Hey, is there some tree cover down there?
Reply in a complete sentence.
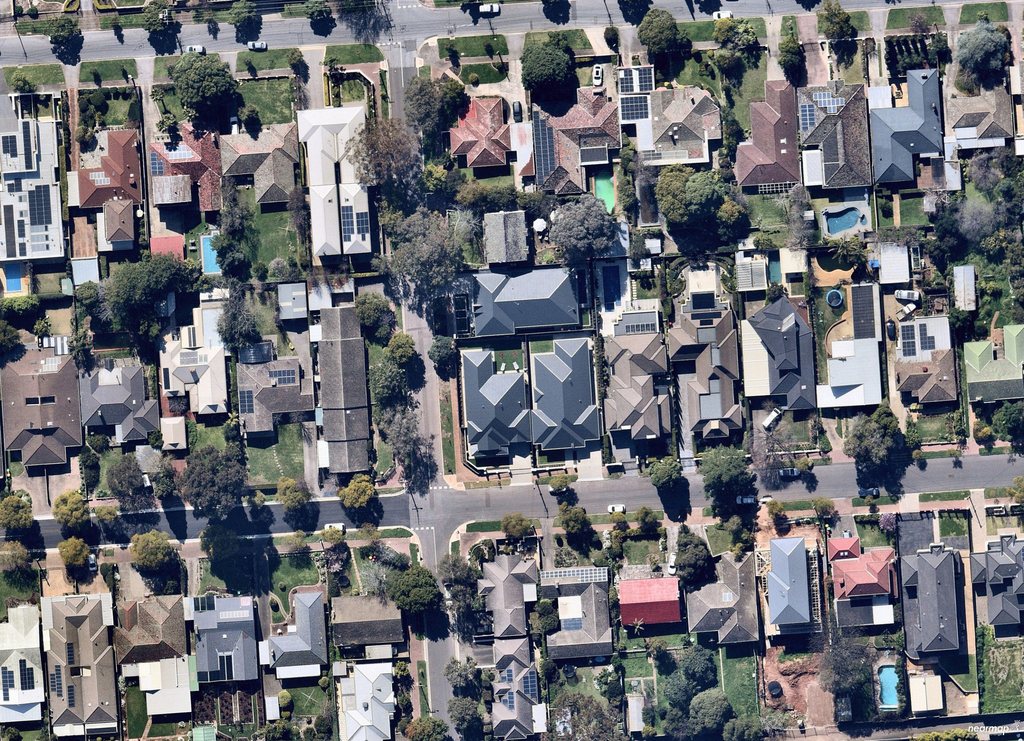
Yes, the picture does contain tree cover.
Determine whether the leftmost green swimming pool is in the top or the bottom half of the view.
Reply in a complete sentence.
The top half of the photo is where the leftmost green swimming pool is.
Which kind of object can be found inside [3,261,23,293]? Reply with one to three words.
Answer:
swimming pool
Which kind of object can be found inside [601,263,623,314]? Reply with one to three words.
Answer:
swimming pool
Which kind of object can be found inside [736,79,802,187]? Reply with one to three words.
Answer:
house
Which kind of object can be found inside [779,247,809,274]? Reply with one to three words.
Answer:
building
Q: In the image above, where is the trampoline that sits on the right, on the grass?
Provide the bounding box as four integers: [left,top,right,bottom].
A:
[827,290,843,306]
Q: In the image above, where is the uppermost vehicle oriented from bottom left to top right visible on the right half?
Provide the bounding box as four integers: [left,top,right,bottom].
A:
[896,302,917,321]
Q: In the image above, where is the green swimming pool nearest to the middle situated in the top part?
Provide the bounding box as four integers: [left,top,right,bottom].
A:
[593,170,617,215]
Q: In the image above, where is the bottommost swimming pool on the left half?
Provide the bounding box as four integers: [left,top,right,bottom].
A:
[92,330,133,352]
